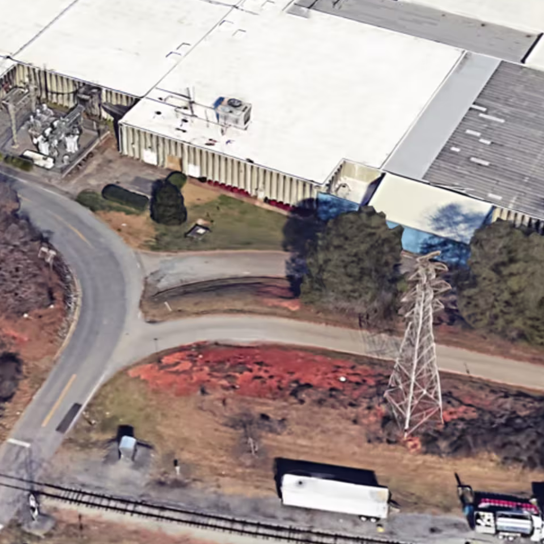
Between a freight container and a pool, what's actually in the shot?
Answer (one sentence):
There is a freight container in the scene.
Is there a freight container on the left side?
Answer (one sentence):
No, the scene shows no freight container on the left side.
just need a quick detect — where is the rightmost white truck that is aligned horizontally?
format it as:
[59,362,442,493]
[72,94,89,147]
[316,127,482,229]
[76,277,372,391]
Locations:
[476,513,544,544]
